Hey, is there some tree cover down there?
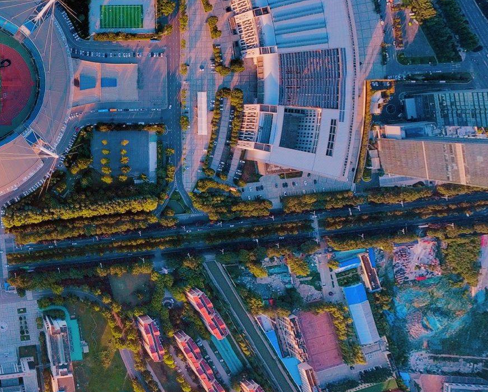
Yes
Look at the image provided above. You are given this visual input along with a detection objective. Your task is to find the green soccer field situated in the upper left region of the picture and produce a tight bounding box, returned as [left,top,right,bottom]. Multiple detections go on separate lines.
[100,4,144,27]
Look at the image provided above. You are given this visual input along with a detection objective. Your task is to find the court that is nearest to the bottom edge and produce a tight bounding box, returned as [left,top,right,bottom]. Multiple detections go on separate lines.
[299,313,343,371]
